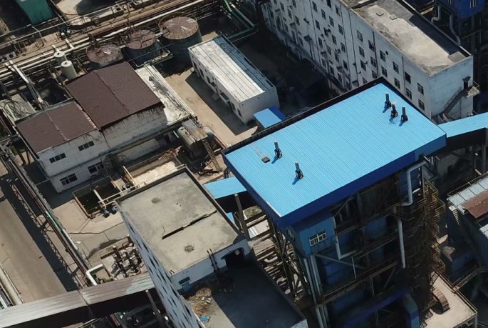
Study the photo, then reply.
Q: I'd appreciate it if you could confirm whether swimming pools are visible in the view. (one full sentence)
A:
No, the frame has no swimming pool in it.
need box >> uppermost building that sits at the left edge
[11,59,175,187]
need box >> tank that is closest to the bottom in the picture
[183,124,214,170]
